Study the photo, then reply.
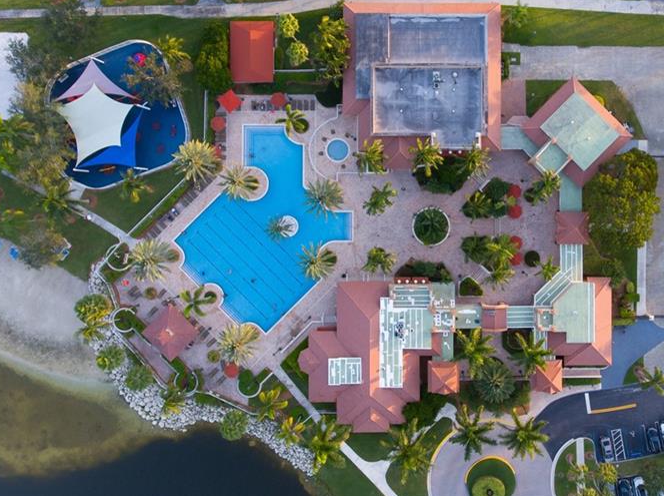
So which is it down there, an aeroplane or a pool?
pool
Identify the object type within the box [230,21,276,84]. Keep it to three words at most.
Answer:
shed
